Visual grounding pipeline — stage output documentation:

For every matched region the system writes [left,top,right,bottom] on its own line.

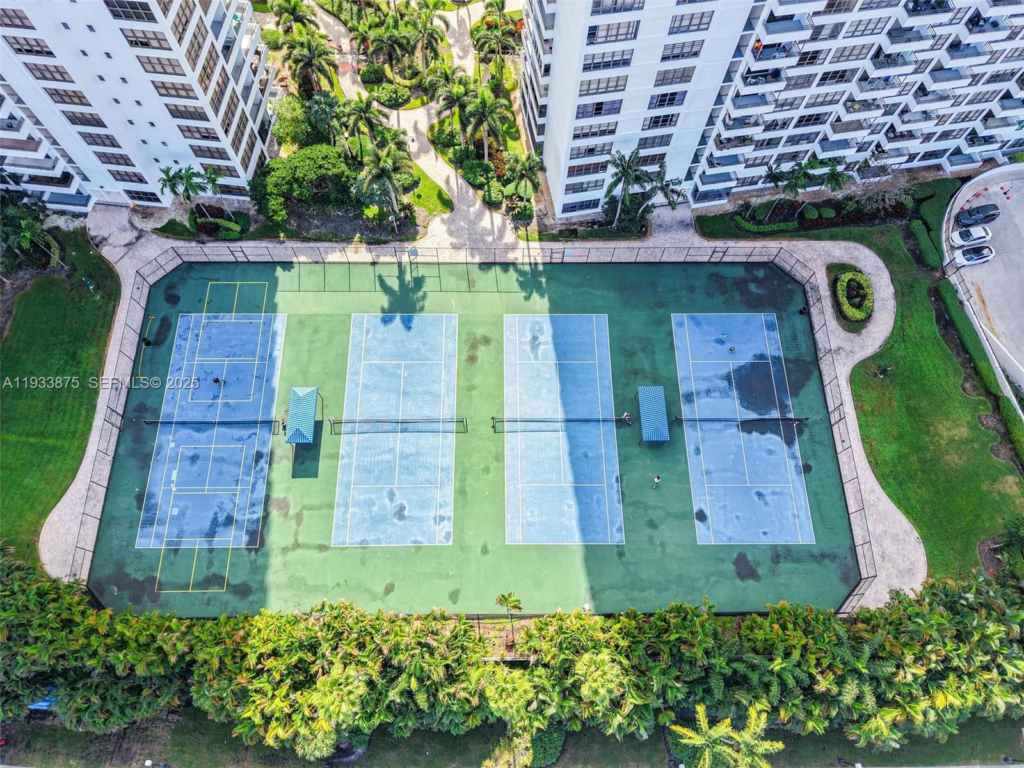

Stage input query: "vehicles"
[951,228,993,252]
[952,245,997,271]
[955,201,1003,231]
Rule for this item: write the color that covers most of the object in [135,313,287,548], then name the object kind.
blue tennis court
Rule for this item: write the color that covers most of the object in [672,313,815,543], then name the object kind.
blue tennis court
